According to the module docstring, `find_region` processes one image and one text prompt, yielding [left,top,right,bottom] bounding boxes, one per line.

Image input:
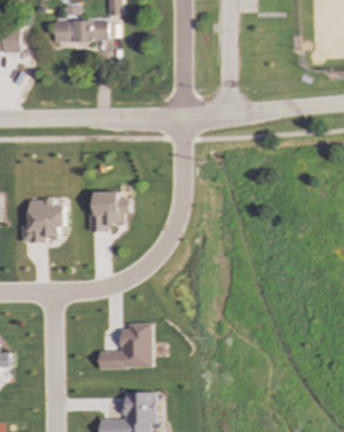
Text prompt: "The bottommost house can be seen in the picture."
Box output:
[96,392,159,432]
